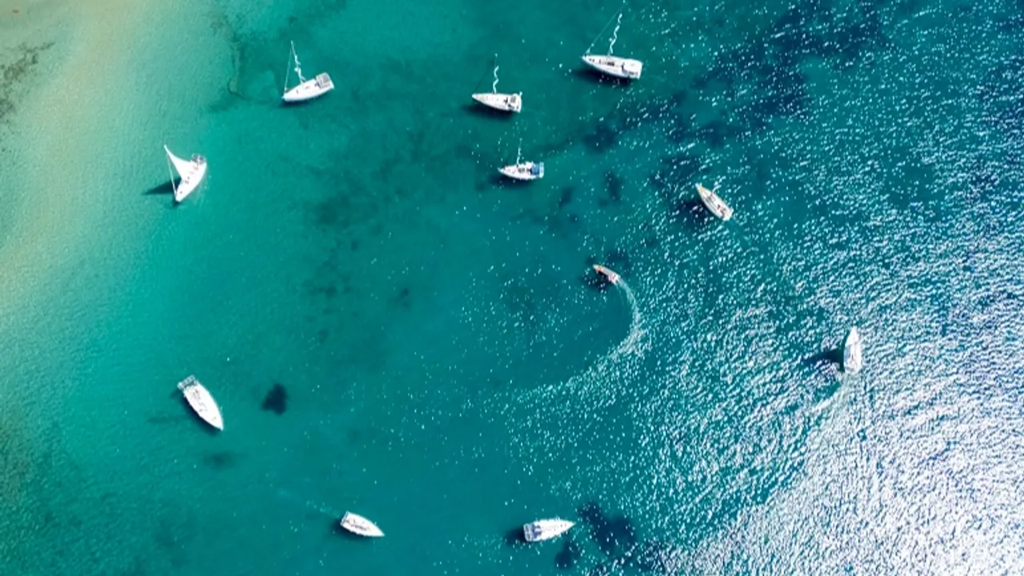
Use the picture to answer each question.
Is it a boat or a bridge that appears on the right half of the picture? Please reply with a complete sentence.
Visible on the right half of the picture is a boat.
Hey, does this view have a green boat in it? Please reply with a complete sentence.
No, no green boat is visible in the view.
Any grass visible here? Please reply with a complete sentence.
No, the scene doesn't show any grass.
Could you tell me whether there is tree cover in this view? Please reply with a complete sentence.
No, the scene doesn't show any tree cover.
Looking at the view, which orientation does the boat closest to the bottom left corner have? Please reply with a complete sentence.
I'd say the boat closest to the bottom left corner is aligned on a diagonal in the picture.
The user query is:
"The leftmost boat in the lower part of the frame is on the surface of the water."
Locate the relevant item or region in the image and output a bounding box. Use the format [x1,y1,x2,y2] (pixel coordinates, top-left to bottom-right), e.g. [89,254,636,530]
[179,379,225,431]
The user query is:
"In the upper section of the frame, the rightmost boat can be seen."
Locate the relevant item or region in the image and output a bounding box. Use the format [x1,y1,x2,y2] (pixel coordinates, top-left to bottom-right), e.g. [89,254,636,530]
[696,170,736,222]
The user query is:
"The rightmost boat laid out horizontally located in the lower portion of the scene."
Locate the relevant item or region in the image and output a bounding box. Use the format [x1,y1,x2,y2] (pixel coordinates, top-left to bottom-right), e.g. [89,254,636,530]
[518,517,575,542]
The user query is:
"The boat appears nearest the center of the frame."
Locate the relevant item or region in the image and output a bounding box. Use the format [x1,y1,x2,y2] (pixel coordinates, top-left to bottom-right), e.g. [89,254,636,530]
[594,265,621,286]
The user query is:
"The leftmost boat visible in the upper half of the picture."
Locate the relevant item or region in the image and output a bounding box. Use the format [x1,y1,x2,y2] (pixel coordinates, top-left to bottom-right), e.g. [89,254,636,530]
[163,144,210,204]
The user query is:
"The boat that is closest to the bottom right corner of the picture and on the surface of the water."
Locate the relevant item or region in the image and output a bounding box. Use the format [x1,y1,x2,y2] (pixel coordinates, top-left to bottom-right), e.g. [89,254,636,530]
[842,321,886,377]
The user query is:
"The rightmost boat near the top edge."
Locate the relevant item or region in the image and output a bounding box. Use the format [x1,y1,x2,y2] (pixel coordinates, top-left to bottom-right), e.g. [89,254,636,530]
[581,4,643,80]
